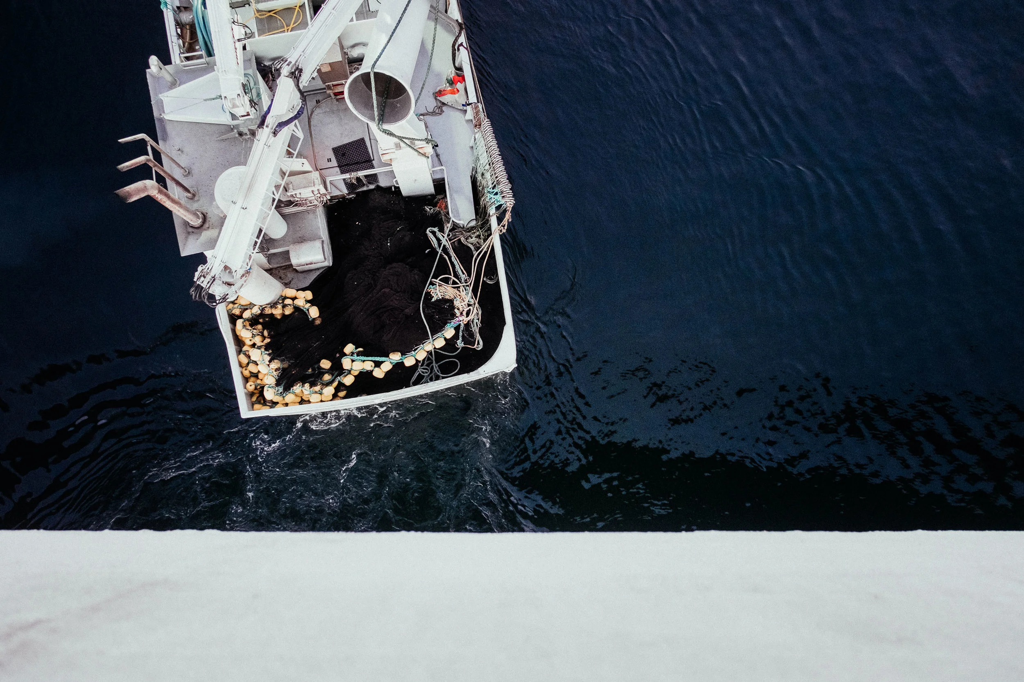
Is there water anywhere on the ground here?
Yes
